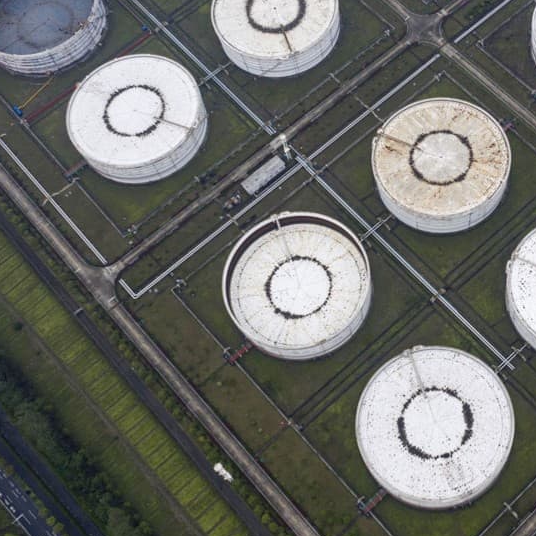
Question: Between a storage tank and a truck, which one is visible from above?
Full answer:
Of the two, only a storage tank appears.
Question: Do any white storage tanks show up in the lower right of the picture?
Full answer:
Yes, the scene does show a white storage tank in the lower right of the picture.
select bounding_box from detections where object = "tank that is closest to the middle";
[220,209,375,362]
